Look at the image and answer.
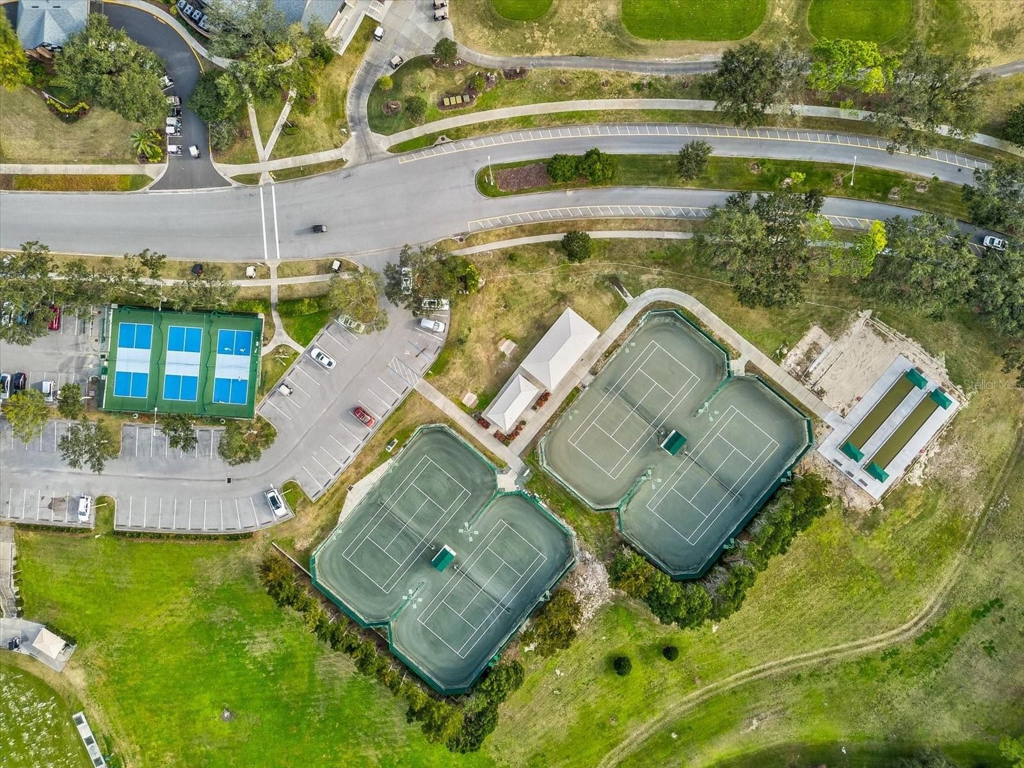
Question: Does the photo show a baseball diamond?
No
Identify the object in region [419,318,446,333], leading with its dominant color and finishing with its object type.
white car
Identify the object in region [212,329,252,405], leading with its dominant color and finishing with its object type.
blue sports court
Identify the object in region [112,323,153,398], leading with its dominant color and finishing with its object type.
blue sports court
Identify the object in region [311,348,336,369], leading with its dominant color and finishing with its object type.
white car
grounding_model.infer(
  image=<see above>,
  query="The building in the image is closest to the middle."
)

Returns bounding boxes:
[486,374,539,431]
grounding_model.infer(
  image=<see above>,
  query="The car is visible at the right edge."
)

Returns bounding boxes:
[980,236,1008,251]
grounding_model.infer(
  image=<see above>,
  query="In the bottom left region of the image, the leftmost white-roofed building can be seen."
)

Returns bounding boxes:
[32,624,73,659]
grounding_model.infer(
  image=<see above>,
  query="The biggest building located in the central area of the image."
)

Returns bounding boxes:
[520,307,600,391]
